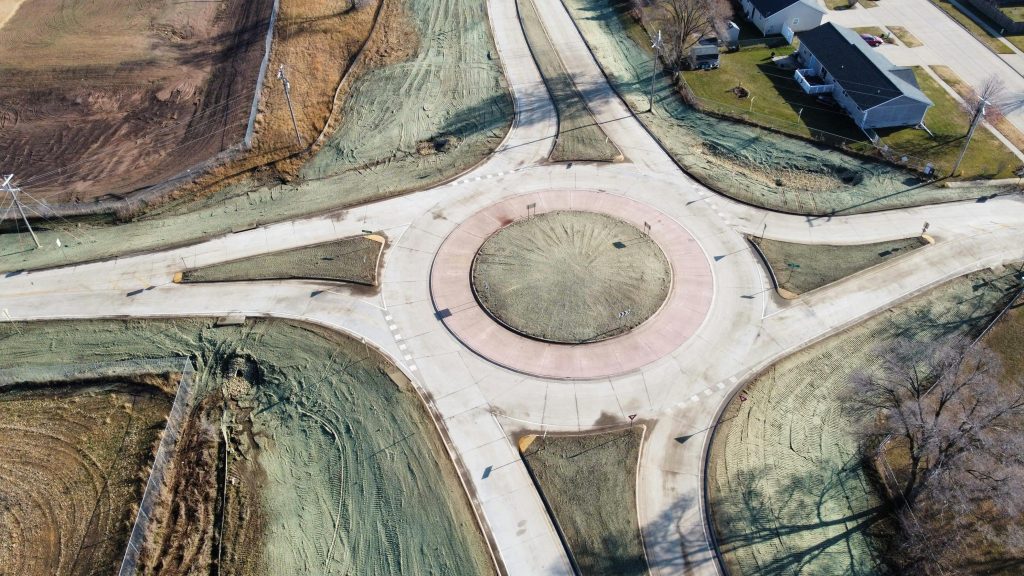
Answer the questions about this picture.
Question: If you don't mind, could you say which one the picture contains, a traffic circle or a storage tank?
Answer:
traffic circle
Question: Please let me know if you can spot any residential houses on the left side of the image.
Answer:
No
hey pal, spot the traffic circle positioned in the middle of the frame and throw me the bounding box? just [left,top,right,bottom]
[331,163,807,451]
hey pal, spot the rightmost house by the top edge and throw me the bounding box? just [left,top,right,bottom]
[792,15,937,134]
